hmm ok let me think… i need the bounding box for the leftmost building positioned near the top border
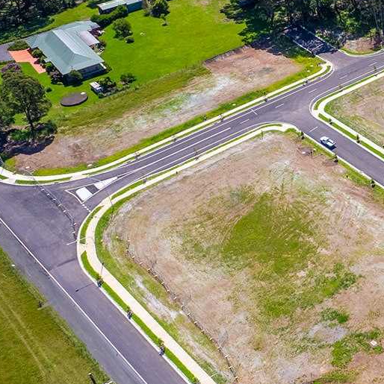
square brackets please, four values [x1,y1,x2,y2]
[25,18,106,82]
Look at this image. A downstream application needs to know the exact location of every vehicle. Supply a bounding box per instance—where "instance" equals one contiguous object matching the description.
[317,134,336,147]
